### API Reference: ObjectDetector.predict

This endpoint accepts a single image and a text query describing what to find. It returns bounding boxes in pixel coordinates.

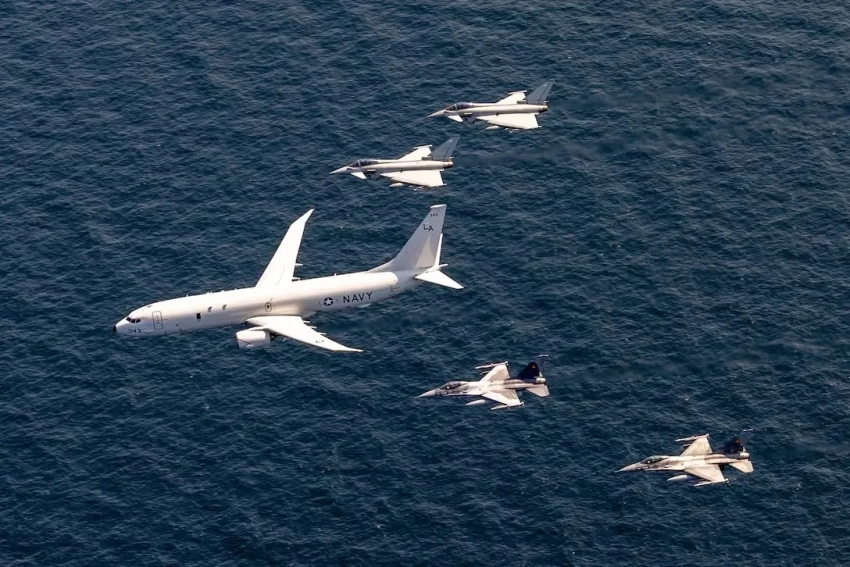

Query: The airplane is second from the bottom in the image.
[418,354,550,408]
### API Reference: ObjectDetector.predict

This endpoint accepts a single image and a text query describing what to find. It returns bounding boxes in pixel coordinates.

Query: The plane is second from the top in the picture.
[333,135,460,188]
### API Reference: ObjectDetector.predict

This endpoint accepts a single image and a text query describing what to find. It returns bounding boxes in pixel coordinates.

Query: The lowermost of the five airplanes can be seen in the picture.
[618,429,754,486]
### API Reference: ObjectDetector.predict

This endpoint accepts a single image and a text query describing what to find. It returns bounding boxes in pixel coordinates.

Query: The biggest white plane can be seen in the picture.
[113,205,464,352]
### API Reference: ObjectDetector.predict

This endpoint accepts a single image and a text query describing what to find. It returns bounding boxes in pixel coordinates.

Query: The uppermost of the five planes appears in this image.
[428,81,554,132]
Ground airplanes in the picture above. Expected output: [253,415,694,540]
[113,205,464,352]
[333,135,460,188]
[618,429,754,486]
[418,354,550,408]
[428,81,554,132]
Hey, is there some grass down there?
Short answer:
No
